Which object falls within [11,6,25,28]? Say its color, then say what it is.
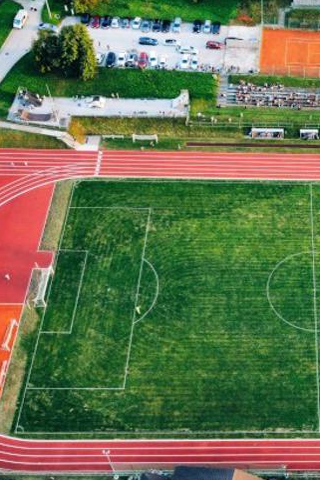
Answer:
white vehicle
